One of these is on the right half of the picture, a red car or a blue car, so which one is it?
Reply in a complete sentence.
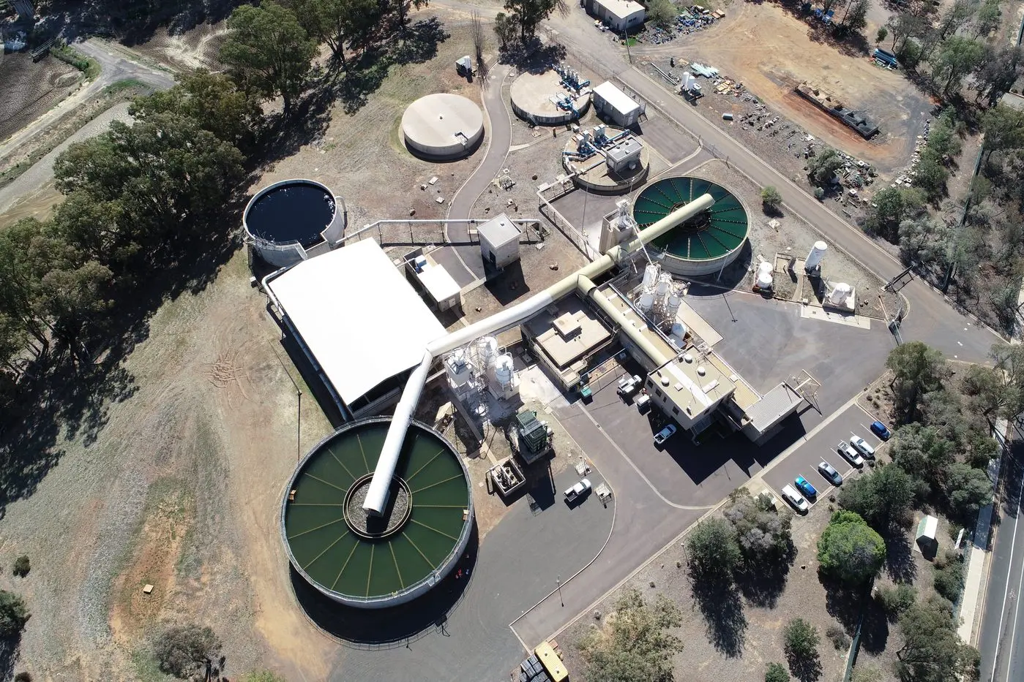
The feature located on the right half of the picture is a blue car.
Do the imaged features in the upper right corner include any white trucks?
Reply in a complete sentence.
No, no white truck can be made out in the upper right corner.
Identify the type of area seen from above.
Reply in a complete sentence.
This image shows an industrial area.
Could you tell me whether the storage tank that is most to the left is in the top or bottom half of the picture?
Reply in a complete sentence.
Seen from above, the storage tank that is most to the left lies in the top half of the view.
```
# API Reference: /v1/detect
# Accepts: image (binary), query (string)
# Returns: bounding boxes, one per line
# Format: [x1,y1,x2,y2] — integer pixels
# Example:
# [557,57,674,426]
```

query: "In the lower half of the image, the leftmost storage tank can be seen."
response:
[275,410,476,609]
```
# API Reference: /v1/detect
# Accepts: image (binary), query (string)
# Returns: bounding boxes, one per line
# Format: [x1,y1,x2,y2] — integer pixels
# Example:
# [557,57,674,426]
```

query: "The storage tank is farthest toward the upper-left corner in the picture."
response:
[243,179,351,293]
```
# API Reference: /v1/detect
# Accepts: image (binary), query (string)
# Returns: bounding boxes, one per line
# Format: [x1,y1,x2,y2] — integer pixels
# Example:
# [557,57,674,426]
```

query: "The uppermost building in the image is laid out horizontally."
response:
[574,0,645,34]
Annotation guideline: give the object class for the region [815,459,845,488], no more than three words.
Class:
car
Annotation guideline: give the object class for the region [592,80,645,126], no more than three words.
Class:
building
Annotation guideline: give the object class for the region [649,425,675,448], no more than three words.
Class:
truck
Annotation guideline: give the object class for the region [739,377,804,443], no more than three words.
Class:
building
